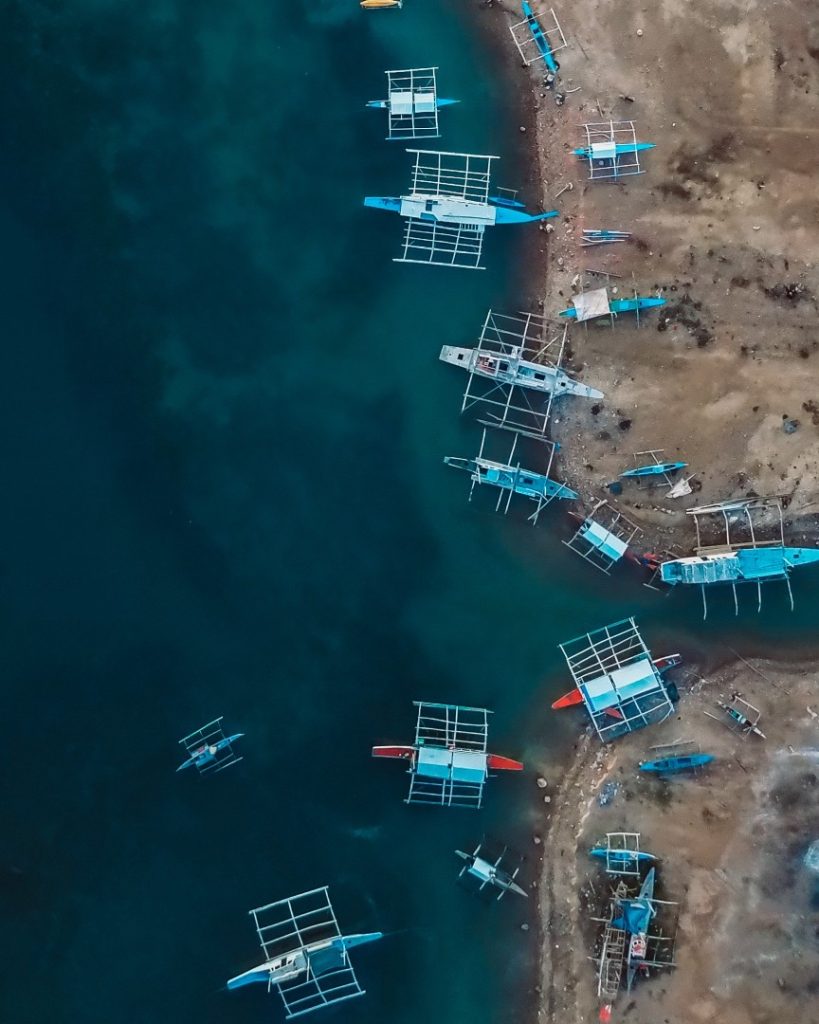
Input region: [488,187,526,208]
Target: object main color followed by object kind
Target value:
blue boat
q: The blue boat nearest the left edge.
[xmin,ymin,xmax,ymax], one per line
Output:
[175,716,245,774]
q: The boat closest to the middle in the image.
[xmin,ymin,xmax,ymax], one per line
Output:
[444,428,579,525]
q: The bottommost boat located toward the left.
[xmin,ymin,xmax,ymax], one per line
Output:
[226,886,419,1019]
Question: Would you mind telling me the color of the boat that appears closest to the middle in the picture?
blue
